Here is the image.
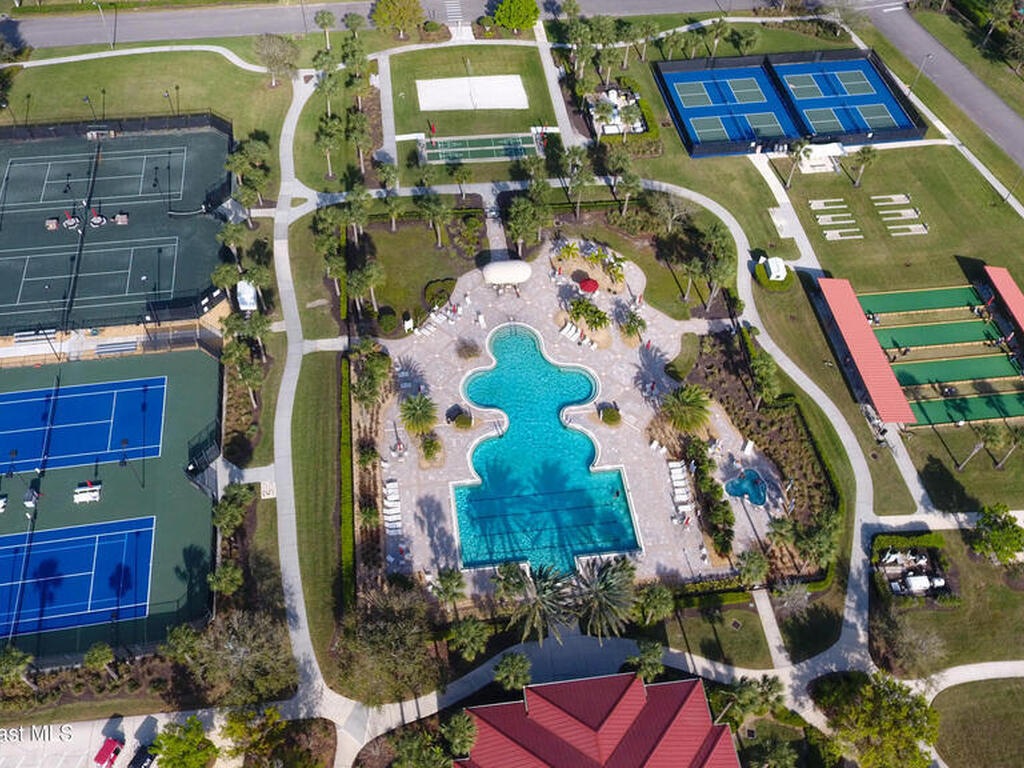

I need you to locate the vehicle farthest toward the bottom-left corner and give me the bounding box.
[91,740,127,768]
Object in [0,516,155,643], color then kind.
blue tennis court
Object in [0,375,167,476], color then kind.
blue tennis court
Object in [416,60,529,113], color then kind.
white sports court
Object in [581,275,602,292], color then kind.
red umbrella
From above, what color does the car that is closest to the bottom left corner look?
red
